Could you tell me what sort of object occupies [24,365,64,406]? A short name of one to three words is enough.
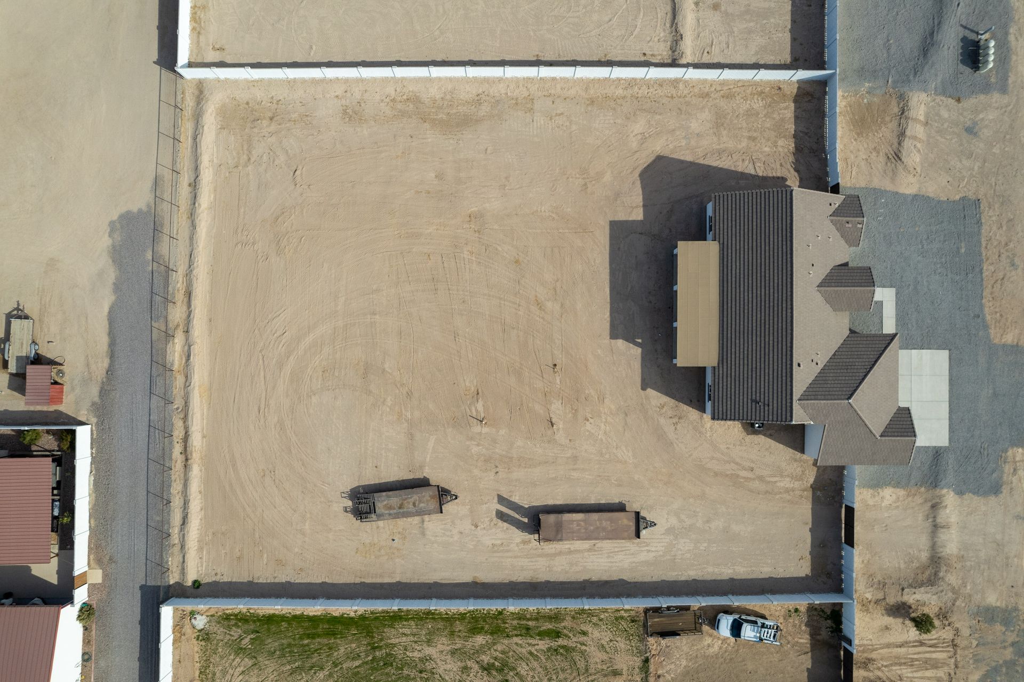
shed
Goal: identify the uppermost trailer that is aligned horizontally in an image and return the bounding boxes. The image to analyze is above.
[355,485,458,521]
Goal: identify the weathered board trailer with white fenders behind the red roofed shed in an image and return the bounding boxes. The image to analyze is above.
[0,305,36,373]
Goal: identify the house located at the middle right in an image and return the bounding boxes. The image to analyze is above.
[675,186,917,465]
